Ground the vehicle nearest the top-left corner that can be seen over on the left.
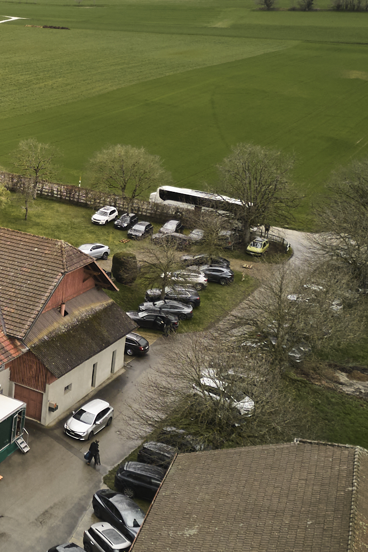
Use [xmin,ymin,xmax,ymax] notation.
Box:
[92,205,117,227]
